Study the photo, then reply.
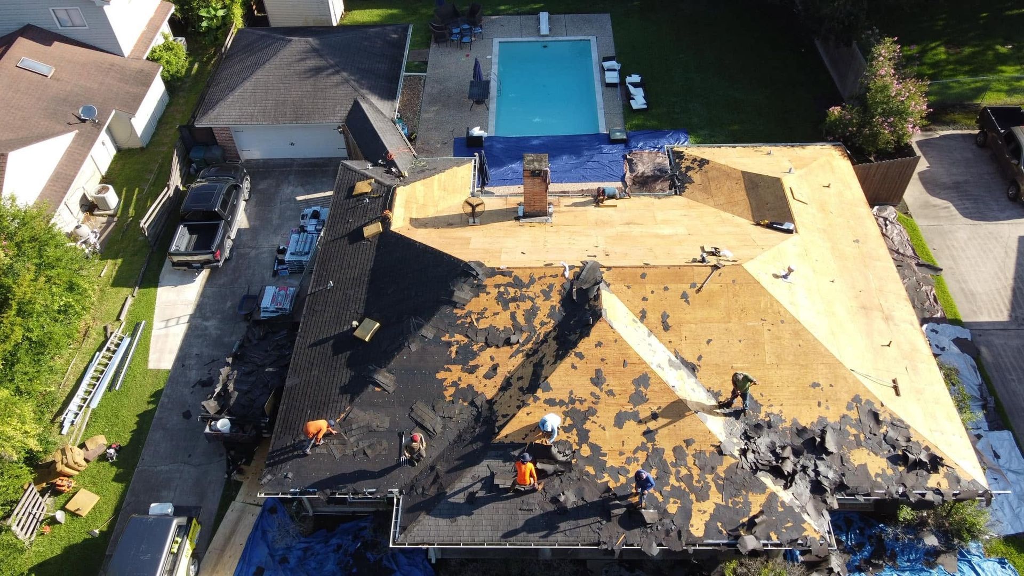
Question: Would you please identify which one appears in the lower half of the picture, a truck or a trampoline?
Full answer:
The one visible in the lower half of the picture is a truck.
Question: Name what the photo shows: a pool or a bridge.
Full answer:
I can see a pool in this picture.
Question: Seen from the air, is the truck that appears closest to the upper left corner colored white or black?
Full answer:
The truck that appears closest to the upper left corner looks black in the image.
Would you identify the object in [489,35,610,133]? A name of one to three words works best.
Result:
swimming pool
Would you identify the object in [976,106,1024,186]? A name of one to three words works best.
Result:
truck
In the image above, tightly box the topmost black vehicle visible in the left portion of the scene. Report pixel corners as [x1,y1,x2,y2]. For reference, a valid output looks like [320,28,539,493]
[165,158,249,273]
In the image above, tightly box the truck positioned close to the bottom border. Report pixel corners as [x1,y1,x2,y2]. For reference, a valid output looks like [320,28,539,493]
[84,510,202,576]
